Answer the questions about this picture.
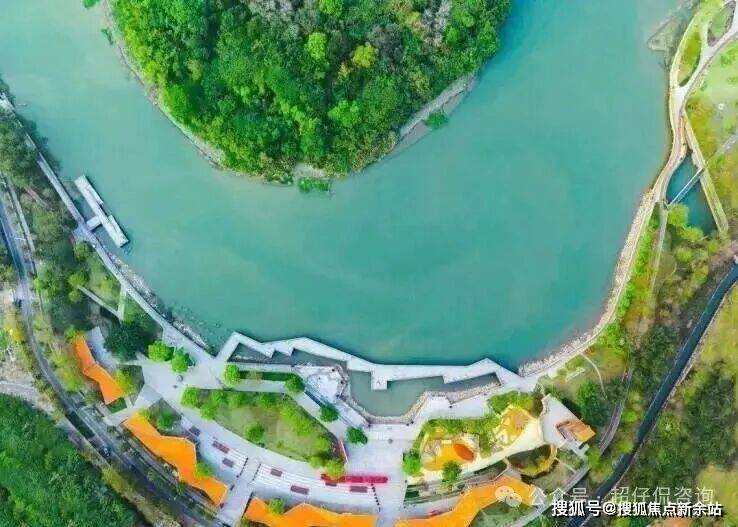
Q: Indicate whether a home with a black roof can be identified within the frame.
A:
No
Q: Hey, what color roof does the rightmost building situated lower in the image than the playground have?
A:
orange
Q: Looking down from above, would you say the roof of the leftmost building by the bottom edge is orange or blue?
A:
orange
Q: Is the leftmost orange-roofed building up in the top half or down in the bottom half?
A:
bottom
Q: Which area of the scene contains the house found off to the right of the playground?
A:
bottom right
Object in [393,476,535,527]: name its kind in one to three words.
building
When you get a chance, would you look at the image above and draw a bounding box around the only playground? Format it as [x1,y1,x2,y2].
[416,404,544,479]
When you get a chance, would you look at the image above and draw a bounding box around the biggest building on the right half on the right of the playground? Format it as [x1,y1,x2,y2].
[556,419,595,448]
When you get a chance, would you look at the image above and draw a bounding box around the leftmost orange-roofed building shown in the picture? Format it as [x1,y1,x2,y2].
[75,333,123,404]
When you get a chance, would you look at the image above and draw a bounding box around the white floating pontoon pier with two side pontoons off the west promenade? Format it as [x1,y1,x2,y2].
[73,175,126,247]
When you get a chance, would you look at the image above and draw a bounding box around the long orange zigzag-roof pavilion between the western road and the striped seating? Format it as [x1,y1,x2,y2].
[123,413,228,505]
